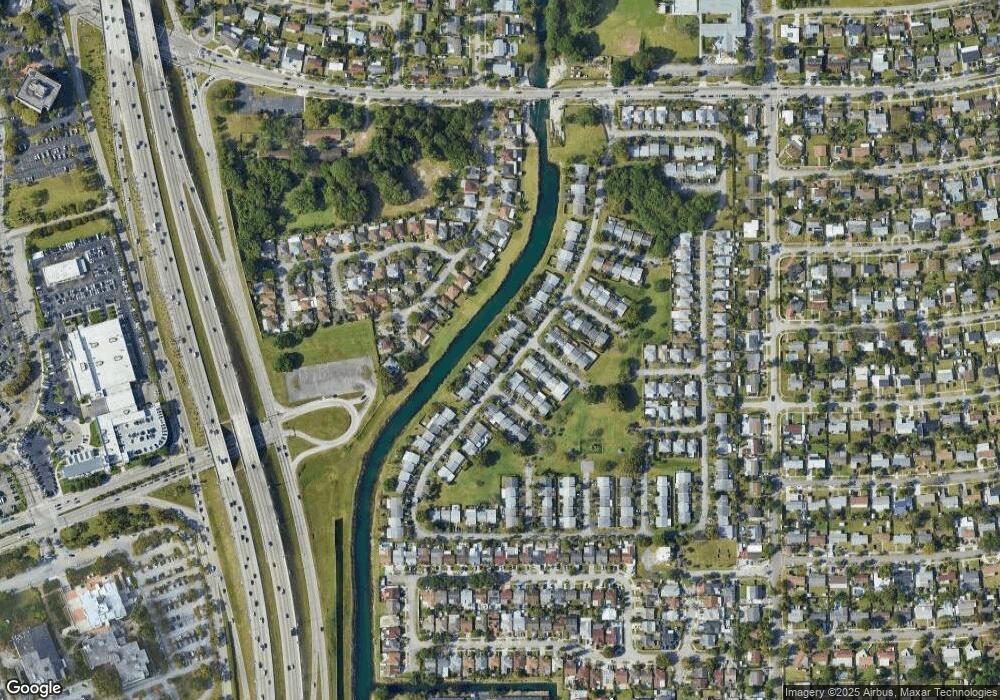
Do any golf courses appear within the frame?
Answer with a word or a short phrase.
No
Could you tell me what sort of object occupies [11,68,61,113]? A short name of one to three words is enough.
building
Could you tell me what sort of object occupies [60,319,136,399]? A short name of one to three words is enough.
building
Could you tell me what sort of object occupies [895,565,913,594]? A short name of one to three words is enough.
house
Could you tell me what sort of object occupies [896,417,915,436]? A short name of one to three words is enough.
house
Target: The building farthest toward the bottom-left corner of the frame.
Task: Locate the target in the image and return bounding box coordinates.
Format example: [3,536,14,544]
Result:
[11,624,66,691]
